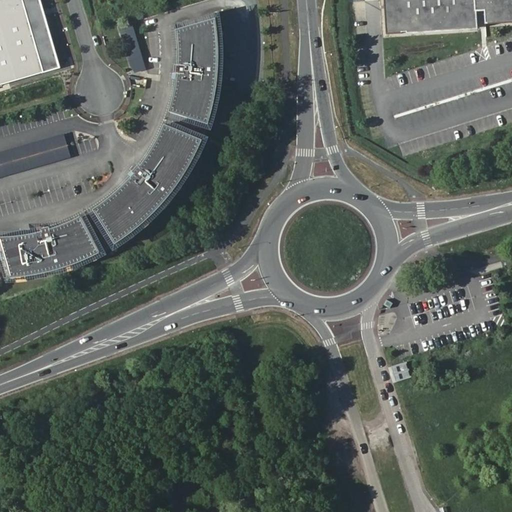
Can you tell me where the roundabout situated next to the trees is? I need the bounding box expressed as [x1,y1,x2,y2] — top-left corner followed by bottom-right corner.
[256,176,400,320]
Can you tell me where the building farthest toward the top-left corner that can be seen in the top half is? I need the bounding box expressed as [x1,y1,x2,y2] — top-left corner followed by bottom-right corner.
[0,0,60,86]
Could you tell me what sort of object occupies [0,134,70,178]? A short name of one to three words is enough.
shed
